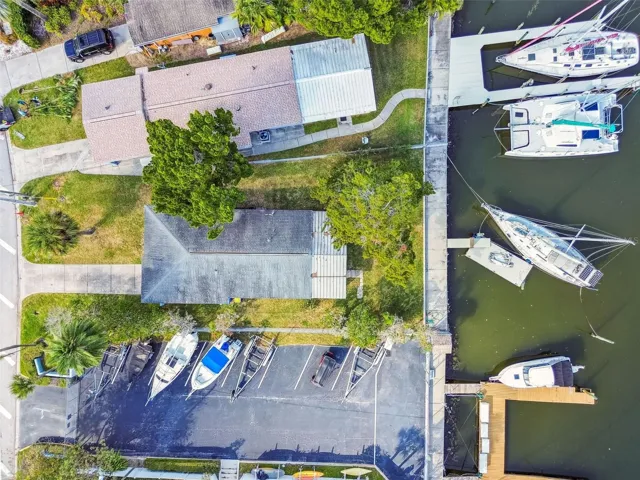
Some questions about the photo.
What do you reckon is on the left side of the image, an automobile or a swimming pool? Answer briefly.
automobile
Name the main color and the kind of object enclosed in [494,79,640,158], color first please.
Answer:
white boat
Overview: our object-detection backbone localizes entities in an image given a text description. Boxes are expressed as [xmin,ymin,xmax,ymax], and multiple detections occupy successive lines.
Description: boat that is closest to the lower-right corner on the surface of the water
[488,356,586,389]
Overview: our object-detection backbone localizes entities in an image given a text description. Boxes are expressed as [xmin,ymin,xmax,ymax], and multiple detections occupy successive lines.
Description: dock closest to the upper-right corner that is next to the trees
[449,20,640,108]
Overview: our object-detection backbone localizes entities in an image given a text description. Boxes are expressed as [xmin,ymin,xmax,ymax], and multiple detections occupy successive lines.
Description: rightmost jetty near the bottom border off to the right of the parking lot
[475,383,594,480]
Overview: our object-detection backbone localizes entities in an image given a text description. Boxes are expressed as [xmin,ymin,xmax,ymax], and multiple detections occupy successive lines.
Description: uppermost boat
[499,0,640,76]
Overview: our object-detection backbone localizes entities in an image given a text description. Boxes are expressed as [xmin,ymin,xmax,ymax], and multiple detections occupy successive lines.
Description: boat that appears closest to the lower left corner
[124,339,153,385]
